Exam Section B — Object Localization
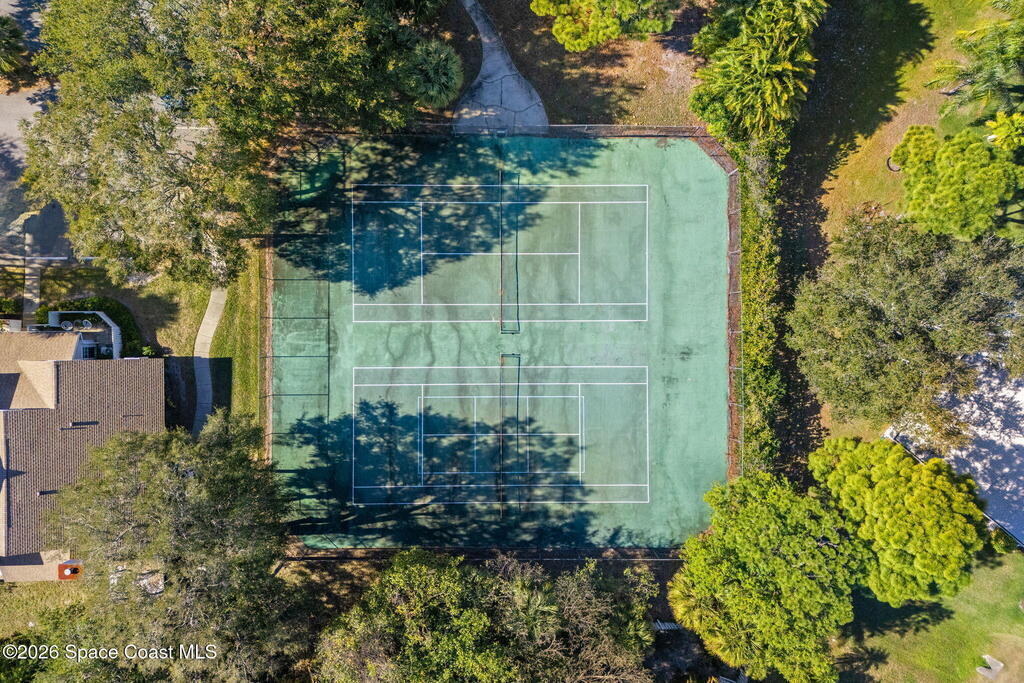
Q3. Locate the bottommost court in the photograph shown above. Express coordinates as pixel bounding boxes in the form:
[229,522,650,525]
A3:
[272,344,729,548]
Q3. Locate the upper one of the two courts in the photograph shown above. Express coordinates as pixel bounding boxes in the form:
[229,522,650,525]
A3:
[272,136,729,344]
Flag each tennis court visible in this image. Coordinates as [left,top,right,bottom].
[272,344,729,548]
[272,136,729,344]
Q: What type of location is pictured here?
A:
sports ground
